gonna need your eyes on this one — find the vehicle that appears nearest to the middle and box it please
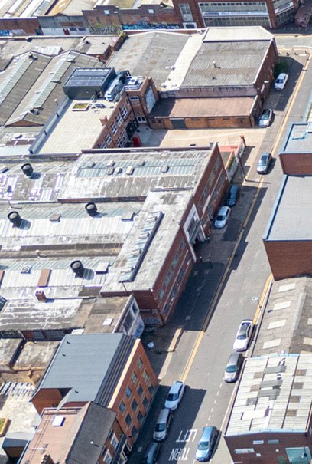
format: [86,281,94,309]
[213,206,231,228]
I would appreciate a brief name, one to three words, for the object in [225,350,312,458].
building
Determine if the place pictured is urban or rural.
urban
